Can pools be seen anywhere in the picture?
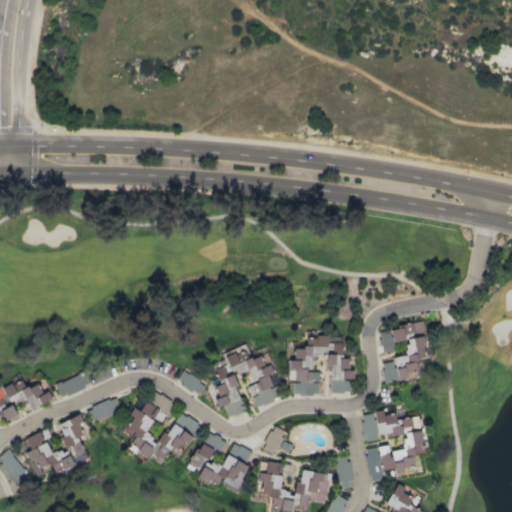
Yes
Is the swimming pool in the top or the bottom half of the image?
bottom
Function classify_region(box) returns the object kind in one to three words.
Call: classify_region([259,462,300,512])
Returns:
house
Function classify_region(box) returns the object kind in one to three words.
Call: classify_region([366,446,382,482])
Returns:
building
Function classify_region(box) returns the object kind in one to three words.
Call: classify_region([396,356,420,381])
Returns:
house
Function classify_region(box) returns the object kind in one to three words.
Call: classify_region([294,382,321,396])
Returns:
building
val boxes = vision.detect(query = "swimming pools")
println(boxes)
[288,423,334,456]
